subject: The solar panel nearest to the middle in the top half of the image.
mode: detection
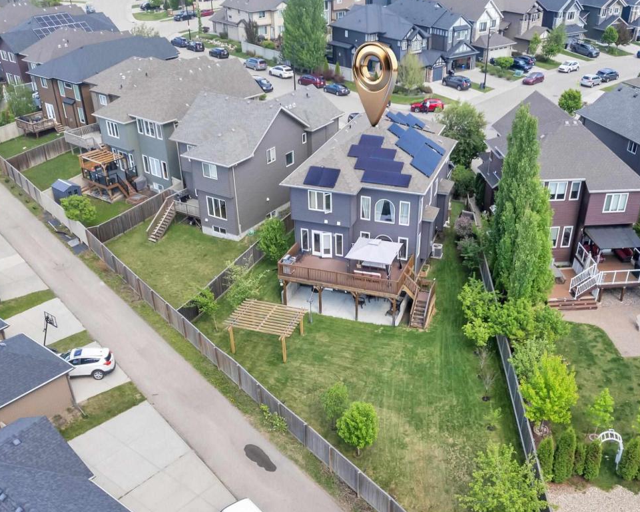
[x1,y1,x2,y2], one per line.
[304,167,340,188]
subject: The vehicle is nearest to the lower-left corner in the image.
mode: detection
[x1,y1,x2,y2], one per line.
[61,338,119,386]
